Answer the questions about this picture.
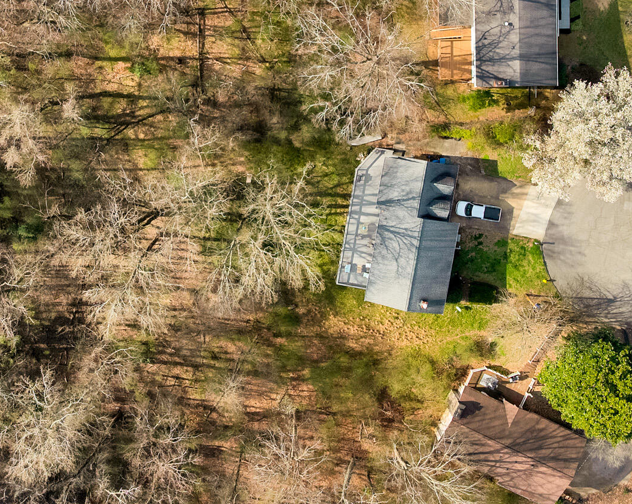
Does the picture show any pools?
No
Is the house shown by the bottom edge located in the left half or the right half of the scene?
right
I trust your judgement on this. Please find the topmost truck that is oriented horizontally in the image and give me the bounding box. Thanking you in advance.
[455,201,503,222]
